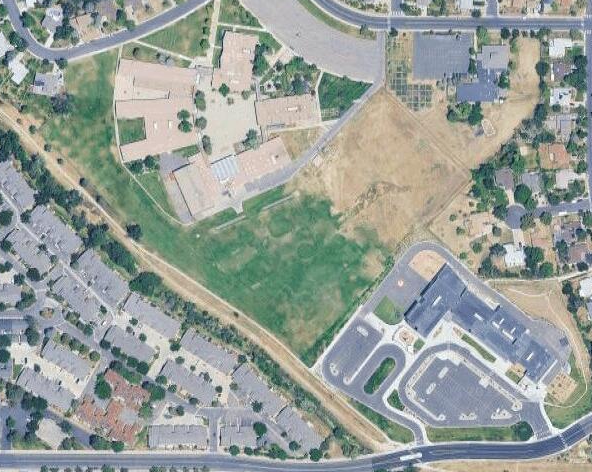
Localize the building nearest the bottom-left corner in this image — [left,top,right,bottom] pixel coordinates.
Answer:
[34,417,68,450]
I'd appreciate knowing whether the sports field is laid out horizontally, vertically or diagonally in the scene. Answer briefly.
diagonally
